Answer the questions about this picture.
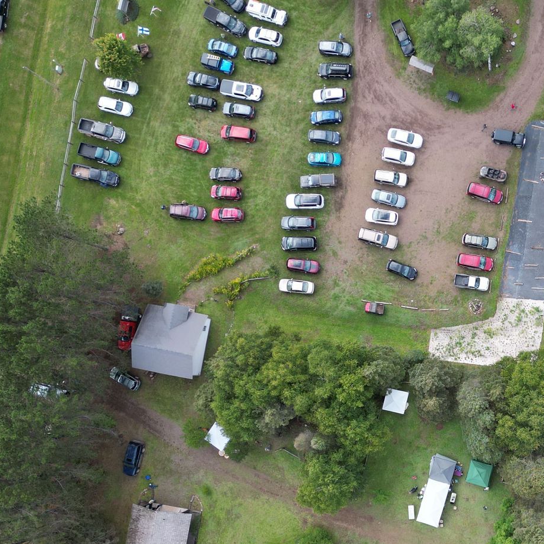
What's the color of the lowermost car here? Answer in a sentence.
The color of the lowermost car is black.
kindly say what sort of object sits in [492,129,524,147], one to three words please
car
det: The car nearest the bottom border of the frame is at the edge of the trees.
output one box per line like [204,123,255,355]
[123,440,146,477]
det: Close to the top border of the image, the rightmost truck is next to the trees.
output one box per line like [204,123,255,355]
[388,16,417,60]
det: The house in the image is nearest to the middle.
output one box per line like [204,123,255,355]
[132,303,210,379]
